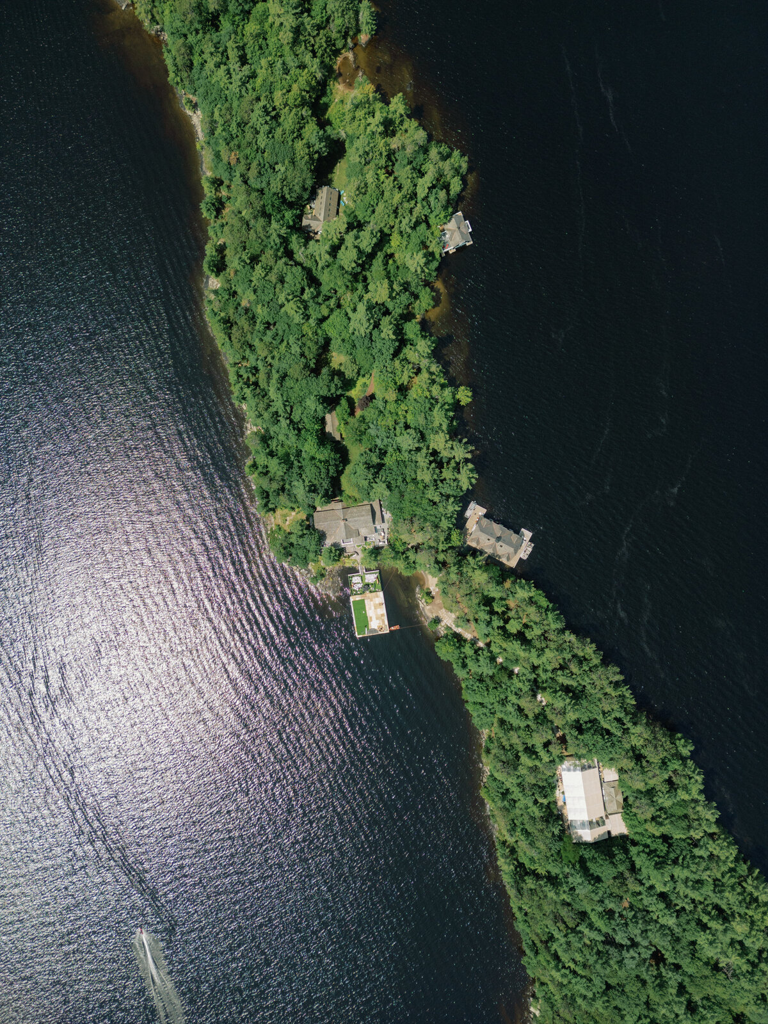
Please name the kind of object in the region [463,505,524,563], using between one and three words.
building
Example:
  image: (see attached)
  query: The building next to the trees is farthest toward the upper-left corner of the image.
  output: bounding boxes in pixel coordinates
[302,186,339,238]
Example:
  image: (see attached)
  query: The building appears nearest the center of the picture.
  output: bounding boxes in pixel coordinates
[310,499,392,553]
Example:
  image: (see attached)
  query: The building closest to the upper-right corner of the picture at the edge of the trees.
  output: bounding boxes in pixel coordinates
[439,211,473,257]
